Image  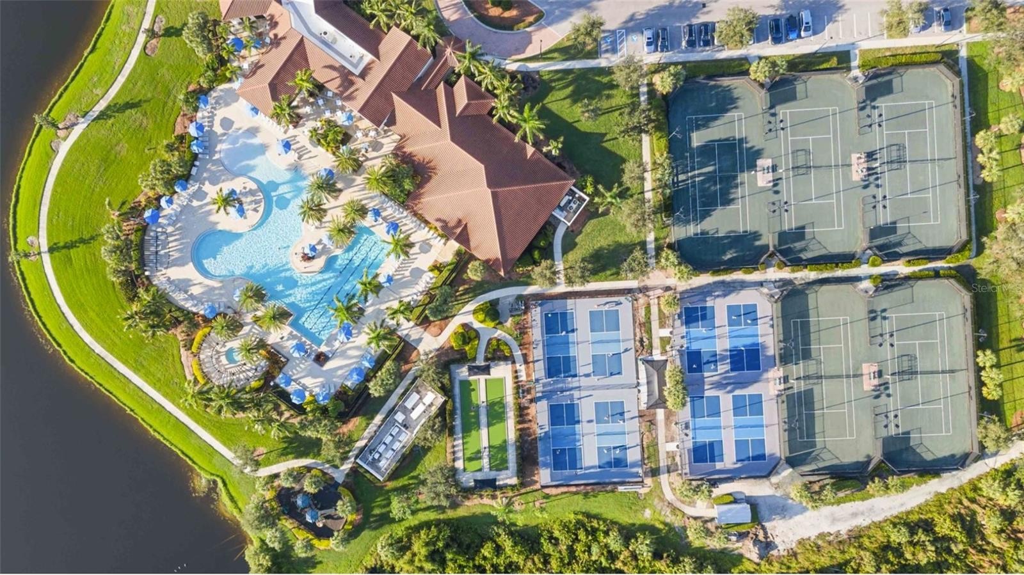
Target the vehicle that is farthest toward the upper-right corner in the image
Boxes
[937,7,950,32]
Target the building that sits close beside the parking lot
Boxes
[215,0,574,275]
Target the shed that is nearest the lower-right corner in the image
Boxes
[716,503,753,525]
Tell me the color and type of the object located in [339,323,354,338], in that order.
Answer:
blue umbrella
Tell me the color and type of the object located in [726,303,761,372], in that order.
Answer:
blue sports court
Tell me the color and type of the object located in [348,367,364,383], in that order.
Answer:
blue umbrella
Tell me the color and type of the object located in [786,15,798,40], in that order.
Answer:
blue vehicle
